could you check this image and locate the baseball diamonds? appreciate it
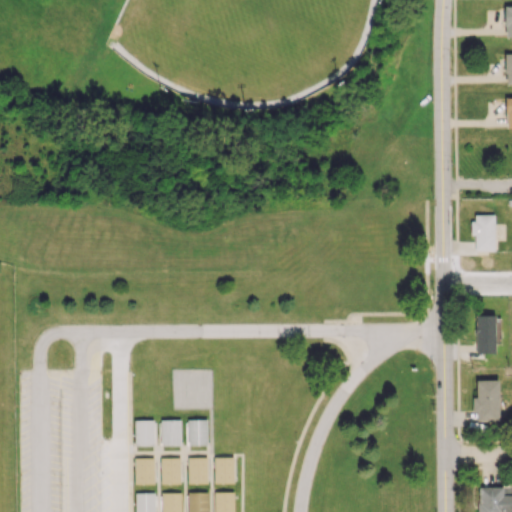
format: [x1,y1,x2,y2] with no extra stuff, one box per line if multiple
[110,0,378,108]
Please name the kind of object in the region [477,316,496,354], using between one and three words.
house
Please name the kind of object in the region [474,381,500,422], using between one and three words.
house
